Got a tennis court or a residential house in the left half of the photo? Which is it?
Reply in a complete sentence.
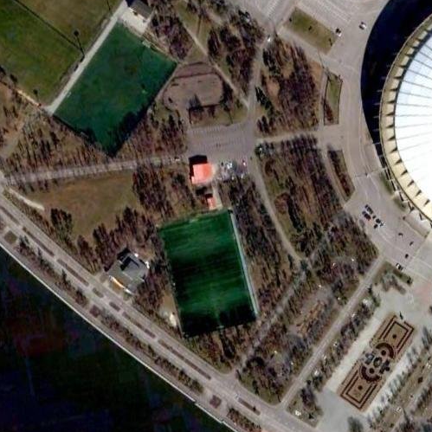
The one visible in the left half of the photo is a residential house.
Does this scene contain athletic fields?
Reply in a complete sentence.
Yes, there's an athletic field down there.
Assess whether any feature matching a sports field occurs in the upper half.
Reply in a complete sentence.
Yes, I can see a sports field in the upper half.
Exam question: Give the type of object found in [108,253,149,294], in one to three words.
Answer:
house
